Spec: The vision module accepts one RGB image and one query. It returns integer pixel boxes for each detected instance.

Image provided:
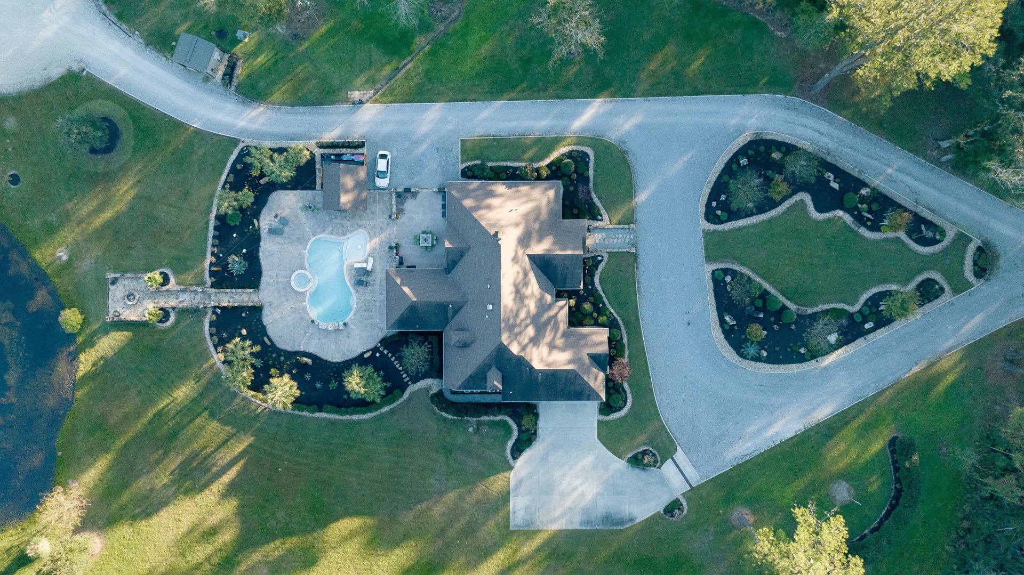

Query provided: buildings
[174,34,233,82]
[322,161,368,210]
[385,180,611,402]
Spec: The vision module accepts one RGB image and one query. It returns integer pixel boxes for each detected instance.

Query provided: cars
[373,151,392,188]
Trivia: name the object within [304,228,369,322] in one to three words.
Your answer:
swimming pool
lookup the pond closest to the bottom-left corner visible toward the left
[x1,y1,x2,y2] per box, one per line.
[0,222,81,531]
